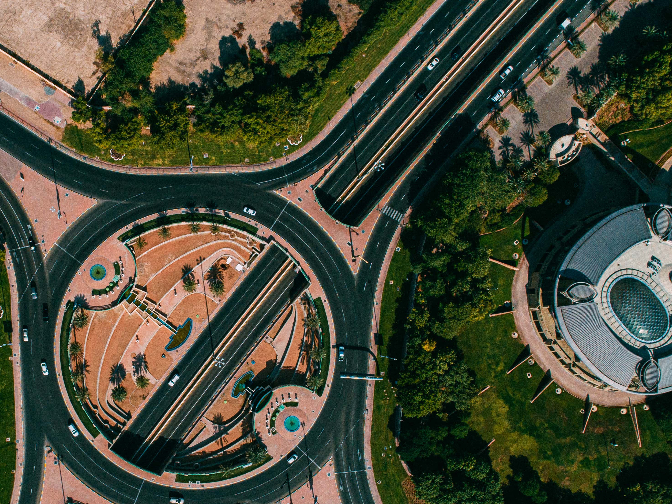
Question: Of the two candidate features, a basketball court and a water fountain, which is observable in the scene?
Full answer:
I can see a water fountain in this picture.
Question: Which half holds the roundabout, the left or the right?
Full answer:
It is on the left.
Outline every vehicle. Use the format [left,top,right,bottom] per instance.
[169,497,184,504]
[338,346,345,362]
[23,327,28,341]
[556,13,574,31]
[450,46,462,60]
[286,454,298,464]
[28,236,36,251]
[427,57,439,70]
[289,264,300,277]
[30,284,38,299]
[490,85,504,99]
[67,422,79,437]
[242,206,257,216]
[167,371,180,385]
[41,361,49,376]
[499,65,514,80]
